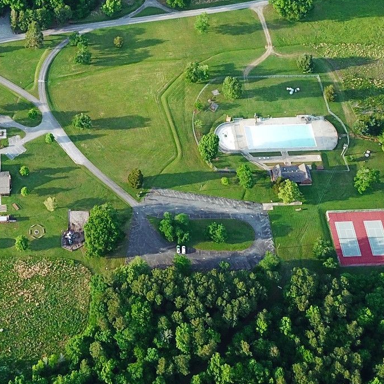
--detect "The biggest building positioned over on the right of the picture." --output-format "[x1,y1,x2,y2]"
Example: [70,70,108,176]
[272,162,314,186]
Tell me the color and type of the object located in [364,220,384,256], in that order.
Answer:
white tennis court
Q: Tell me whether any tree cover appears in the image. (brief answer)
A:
Yes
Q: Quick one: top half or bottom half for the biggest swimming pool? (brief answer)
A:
top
